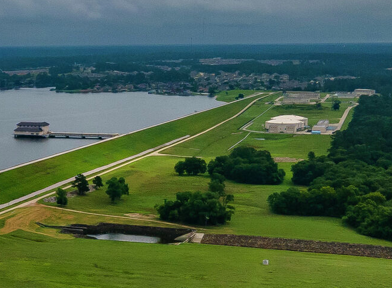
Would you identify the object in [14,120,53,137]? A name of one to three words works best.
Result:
house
